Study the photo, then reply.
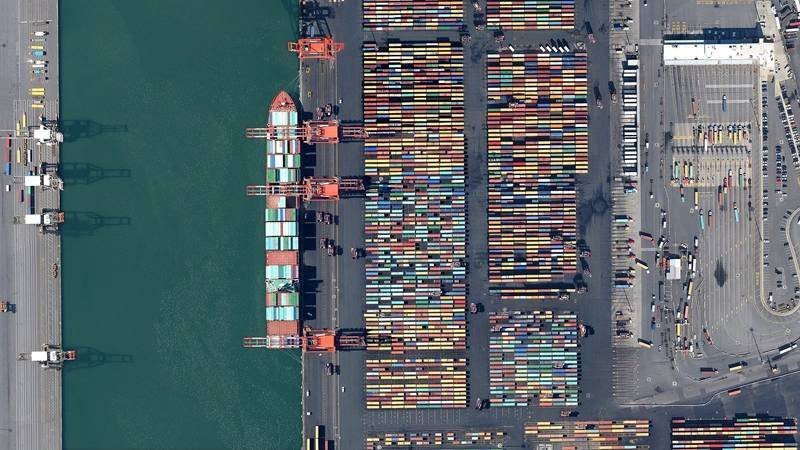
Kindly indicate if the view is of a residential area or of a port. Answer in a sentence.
The picture captures a port.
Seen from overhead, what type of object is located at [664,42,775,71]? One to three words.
building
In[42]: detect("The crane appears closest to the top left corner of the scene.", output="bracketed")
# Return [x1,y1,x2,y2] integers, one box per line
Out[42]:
[18,118,63,149]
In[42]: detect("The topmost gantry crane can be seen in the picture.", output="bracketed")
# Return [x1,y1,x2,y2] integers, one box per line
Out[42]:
[289,34,344,61]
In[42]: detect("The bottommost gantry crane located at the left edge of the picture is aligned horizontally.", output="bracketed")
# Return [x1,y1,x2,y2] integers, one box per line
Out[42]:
[13,341,73,370]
